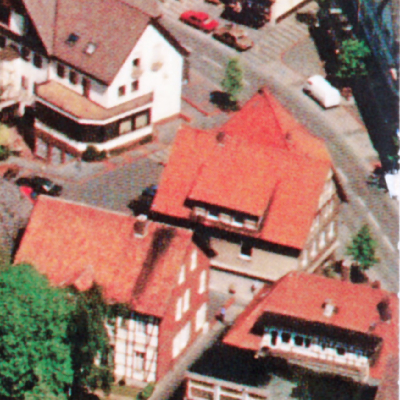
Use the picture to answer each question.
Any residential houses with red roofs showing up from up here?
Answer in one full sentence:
Yes, the frame does contain a residential house with a red roof.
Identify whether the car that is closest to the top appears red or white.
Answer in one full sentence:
From above, the car that is closest to the top appears red.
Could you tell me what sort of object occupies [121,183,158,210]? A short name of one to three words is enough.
car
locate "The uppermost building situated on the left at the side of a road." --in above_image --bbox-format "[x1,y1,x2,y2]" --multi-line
[0,0,181,162]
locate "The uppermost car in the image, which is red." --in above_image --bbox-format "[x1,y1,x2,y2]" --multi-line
[179,5,223,32]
